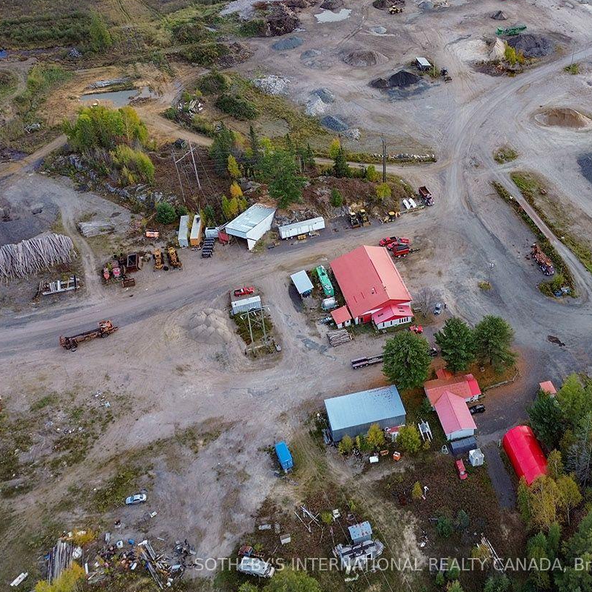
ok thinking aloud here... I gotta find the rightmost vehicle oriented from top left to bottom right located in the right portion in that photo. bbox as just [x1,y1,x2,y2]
[532,242,554,270]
